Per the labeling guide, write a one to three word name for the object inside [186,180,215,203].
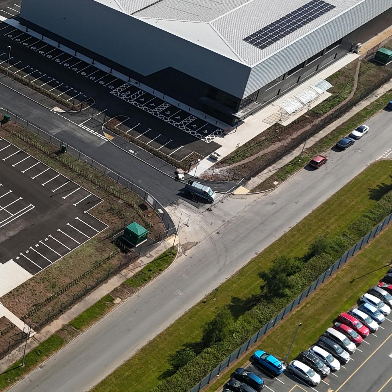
vehicle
